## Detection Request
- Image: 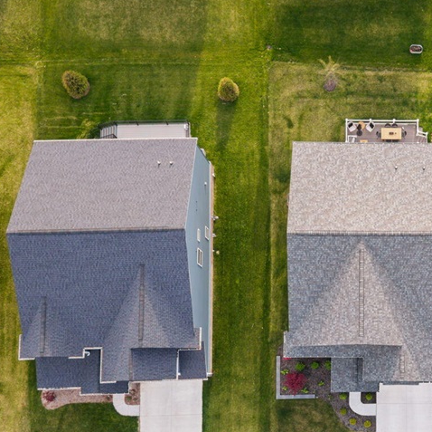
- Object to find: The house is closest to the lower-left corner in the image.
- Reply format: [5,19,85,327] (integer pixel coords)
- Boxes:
[2,138,216,395]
